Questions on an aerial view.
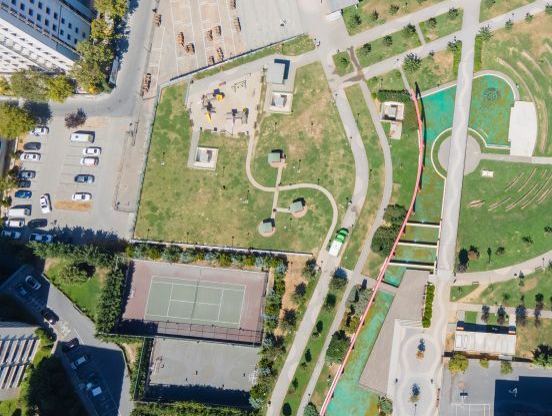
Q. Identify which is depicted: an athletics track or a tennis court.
tennis court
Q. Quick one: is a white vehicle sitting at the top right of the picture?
No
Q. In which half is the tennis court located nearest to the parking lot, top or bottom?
bottom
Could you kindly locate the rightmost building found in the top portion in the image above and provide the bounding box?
[381,103,404,121]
